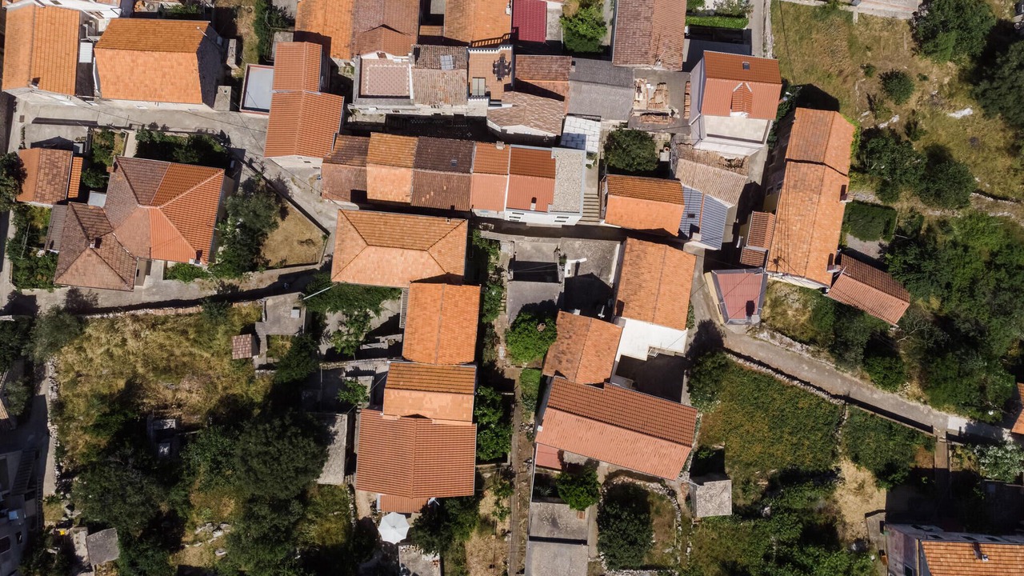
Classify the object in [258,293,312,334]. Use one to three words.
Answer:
shed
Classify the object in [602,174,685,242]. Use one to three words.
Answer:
house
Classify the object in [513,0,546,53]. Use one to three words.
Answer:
shed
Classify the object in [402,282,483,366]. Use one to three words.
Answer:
house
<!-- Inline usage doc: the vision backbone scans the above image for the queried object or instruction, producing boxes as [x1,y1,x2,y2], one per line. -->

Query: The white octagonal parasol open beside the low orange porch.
[377,514,409,544]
